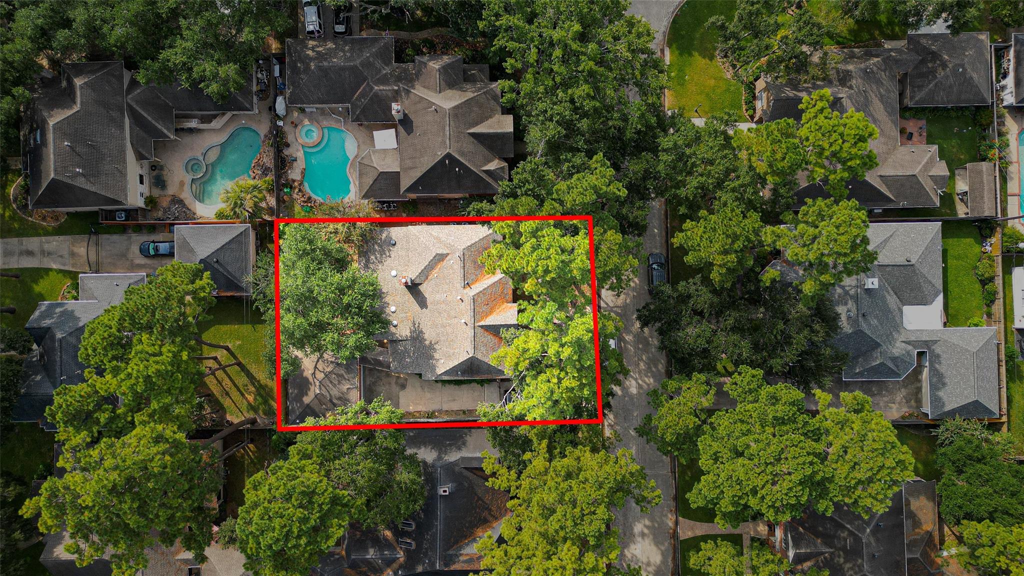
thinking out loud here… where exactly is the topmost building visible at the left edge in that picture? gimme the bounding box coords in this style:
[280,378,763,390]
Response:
[24,60,153,210]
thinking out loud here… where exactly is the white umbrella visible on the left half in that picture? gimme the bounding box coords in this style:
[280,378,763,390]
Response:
[374,128,397,148]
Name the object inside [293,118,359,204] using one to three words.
swimming pool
